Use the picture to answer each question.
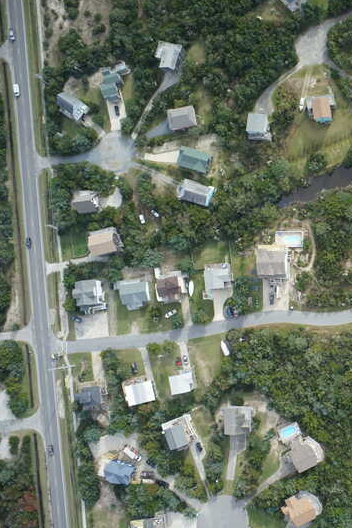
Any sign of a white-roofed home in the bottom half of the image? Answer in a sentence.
Yes, I can see a white-roofed home in the bottom half of the image.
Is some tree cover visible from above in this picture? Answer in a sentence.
Yes, the picture does contain tree cover.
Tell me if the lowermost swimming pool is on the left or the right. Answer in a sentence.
You can find the lowermost swimming pool on the right side of the picture.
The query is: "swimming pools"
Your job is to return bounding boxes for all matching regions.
[277,423,303,445]
[275,230,302,248]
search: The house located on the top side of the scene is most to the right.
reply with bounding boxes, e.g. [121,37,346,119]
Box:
[307,95,337,125]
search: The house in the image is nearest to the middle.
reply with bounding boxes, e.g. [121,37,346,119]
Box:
[154,268,186,302]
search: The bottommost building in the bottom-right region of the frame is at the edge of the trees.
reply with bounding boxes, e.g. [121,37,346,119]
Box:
[279,490,322,526]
